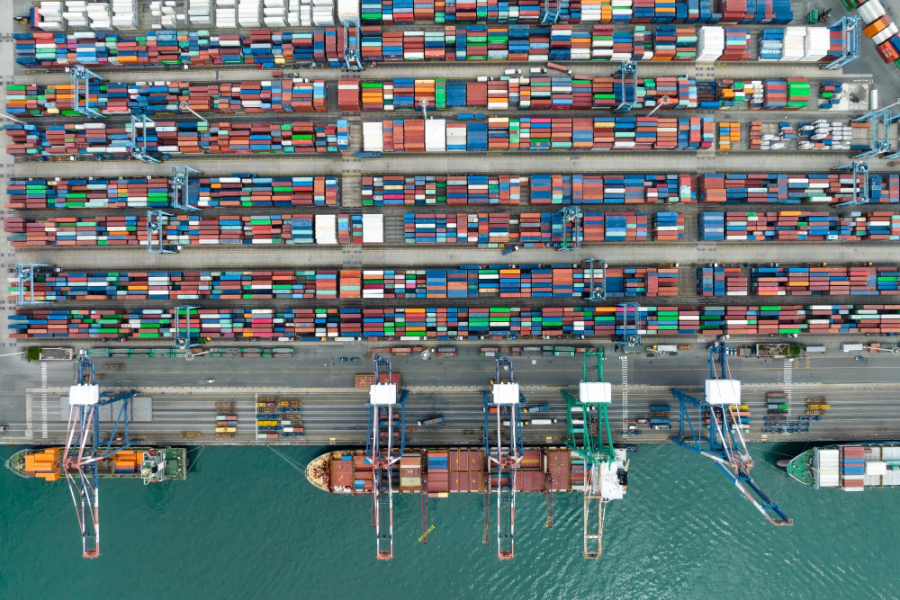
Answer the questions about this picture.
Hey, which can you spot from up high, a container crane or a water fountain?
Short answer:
container crane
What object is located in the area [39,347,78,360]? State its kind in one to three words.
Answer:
building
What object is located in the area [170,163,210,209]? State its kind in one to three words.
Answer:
container crane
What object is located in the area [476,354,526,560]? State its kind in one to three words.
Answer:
container crane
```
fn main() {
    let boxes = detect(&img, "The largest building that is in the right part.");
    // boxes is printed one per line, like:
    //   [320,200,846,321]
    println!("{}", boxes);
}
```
[753,343,789,357]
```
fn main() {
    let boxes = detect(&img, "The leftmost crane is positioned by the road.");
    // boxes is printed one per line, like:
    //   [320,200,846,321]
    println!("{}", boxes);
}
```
[15,262,64,303]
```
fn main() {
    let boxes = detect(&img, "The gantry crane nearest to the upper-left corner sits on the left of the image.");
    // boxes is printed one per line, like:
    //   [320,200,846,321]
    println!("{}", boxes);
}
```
[69,63,117,116]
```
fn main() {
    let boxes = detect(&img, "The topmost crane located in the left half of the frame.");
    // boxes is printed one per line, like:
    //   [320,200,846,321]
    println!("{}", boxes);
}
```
[340,12,371,69]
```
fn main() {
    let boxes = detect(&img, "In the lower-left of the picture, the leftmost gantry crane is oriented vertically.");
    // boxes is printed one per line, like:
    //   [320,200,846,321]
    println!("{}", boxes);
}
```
[59,351,152,560]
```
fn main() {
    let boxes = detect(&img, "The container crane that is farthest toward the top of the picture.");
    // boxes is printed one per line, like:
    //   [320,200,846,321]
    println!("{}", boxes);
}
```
[533,0,564,25]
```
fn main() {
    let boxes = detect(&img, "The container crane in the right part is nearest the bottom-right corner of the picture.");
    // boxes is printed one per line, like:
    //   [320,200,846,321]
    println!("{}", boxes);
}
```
[666,349,791,524]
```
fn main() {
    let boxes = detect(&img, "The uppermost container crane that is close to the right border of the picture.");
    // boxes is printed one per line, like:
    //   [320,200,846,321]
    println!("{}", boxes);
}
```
[814,11,861,67]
